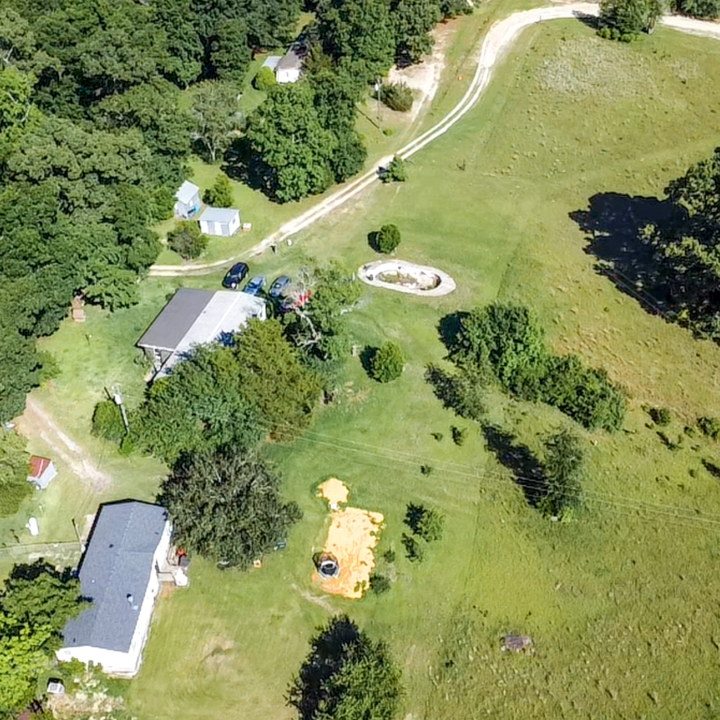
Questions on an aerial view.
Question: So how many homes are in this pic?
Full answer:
My tally gives 3 homes in this view.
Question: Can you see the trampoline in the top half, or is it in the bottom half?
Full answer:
Seen from above, the trampoline lies in the bottom half of the view.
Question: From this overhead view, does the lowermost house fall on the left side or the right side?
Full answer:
The lowermost house is on the left side of the image.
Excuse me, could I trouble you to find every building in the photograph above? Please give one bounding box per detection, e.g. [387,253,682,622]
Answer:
[266,44,311,87]
[199,207,234,237]
[58,502,171,678]
[175,180,202,217]
[26,461,59,491]
[140,278,264,398]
